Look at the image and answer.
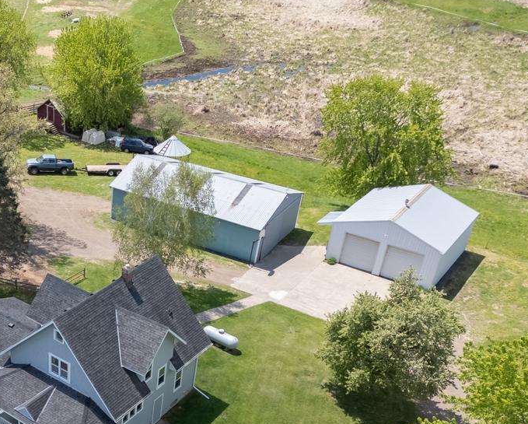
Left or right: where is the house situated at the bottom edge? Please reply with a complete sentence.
The house situated at the bottom edge sits on the left side.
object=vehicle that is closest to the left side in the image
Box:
[25,151,76,174]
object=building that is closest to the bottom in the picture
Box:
[0,257,216,424]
